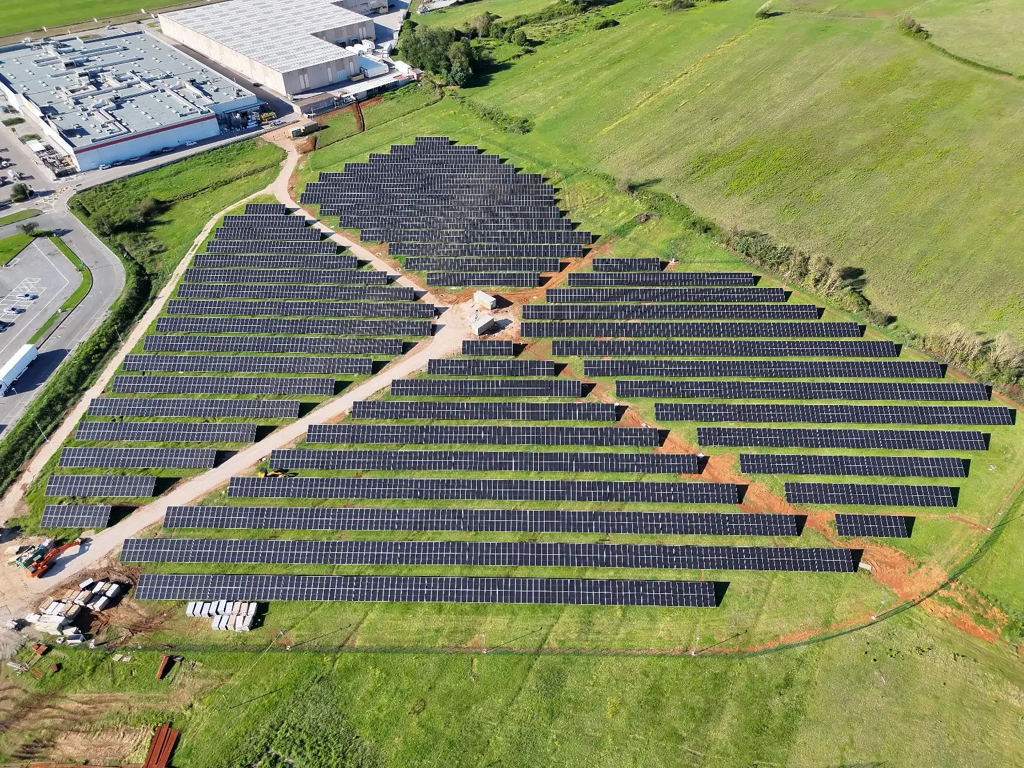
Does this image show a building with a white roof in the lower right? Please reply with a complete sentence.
No, I see no building with a white roof in the lower right.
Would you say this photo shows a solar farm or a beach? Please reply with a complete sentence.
The picture captures a solar farm.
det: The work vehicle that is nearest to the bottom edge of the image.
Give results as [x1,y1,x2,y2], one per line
[17,534,92,582]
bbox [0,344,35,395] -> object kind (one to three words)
truck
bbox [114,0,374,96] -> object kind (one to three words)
building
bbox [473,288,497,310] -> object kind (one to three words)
building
